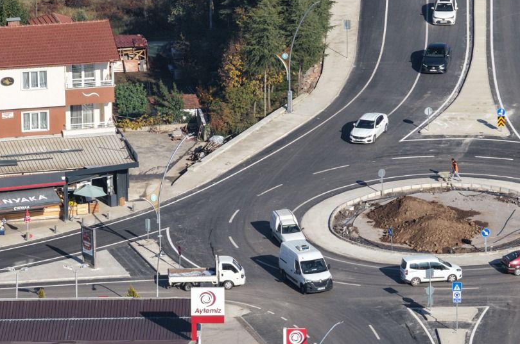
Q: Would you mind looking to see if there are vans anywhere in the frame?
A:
Yes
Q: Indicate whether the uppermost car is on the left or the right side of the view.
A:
right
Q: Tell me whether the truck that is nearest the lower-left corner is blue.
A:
No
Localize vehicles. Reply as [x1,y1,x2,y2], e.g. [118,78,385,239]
[422,42,453,71]
[352,112,392,141]
[499,249,520,275]
[275,204,312,241]
[433,0,460,22]
[276,236,332,293]
[167,254,244,289]
[397,251,463,284]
